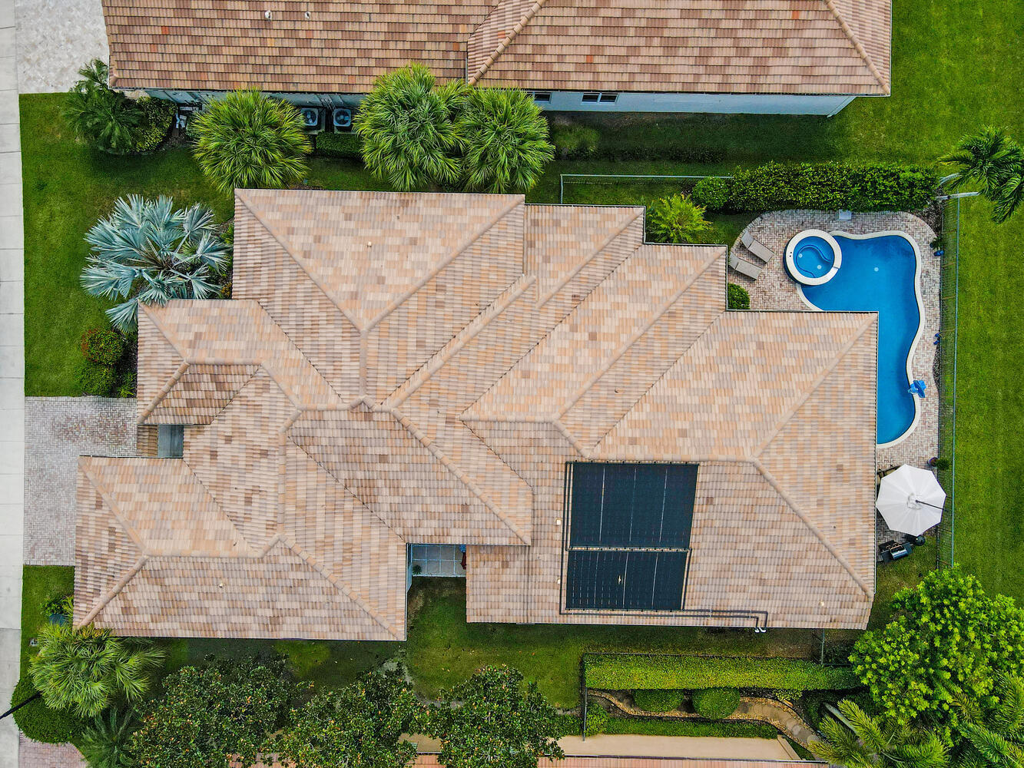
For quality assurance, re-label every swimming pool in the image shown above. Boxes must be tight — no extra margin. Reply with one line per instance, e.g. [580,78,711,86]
[799,228,927,449]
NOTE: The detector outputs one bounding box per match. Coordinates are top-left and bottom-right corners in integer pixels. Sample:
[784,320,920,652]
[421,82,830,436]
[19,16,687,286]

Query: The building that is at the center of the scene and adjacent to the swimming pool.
[73,186,882,643]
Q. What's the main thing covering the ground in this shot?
buildings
